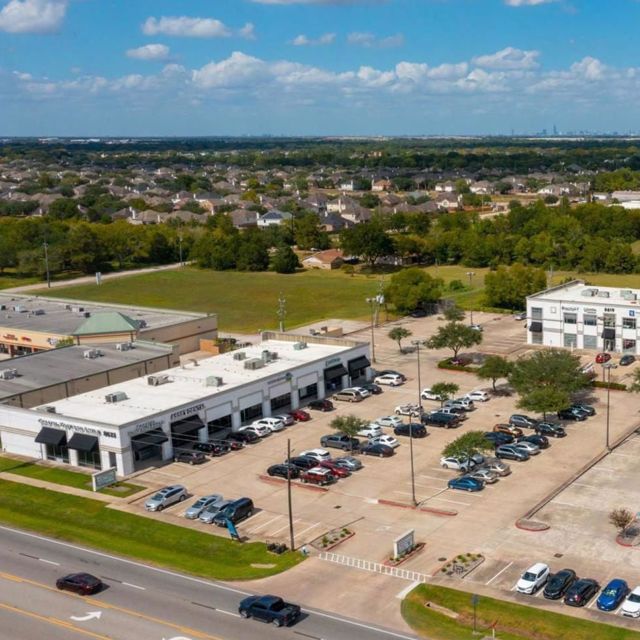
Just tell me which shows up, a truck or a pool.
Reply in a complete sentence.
Visible in the photo is a truck.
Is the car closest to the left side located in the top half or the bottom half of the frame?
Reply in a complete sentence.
You can find the car closest to the left side in the bottom half.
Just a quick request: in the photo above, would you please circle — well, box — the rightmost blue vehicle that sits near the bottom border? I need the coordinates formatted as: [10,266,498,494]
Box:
[592,578,627,611]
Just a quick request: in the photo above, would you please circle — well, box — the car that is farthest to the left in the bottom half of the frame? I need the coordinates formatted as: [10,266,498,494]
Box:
[55,569,104,595]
